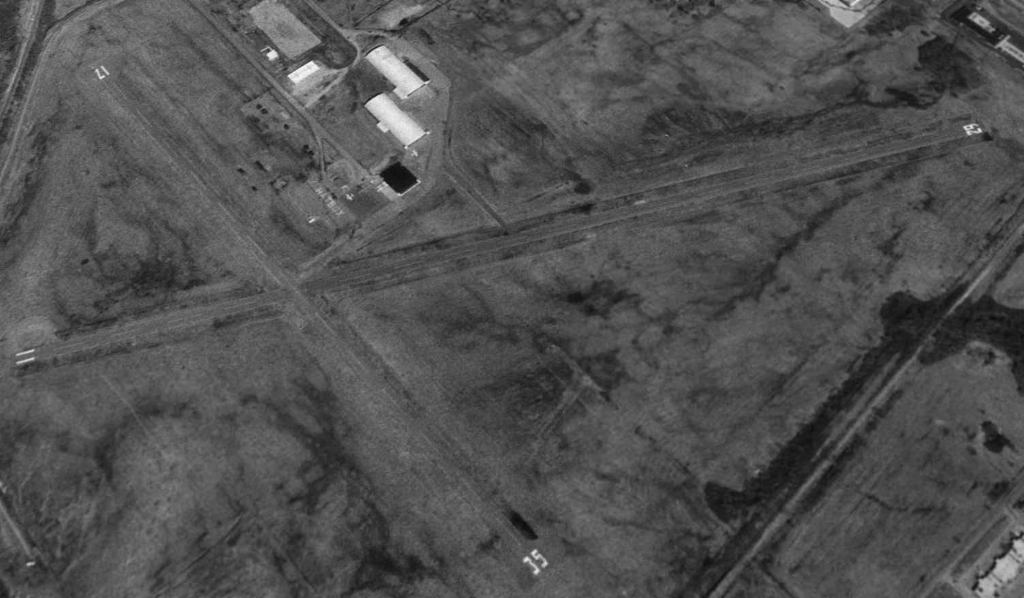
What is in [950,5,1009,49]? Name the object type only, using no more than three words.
building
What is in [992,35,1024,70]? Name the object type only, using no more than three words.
building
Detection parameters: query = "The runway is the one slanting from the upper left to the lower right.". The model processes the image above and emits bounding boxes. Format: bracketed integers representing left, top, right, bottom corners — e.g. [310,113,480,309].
[76,49,584,598]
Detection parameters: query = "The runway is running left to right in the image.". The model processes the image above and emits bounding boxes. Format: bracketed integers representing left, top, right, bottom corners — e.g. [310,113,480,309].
[10,119,1001,373]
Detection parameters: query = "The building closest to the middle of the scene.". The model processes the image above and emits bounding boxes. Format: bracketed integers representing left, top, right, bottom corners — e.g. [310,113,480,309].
[380,161,422,199]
